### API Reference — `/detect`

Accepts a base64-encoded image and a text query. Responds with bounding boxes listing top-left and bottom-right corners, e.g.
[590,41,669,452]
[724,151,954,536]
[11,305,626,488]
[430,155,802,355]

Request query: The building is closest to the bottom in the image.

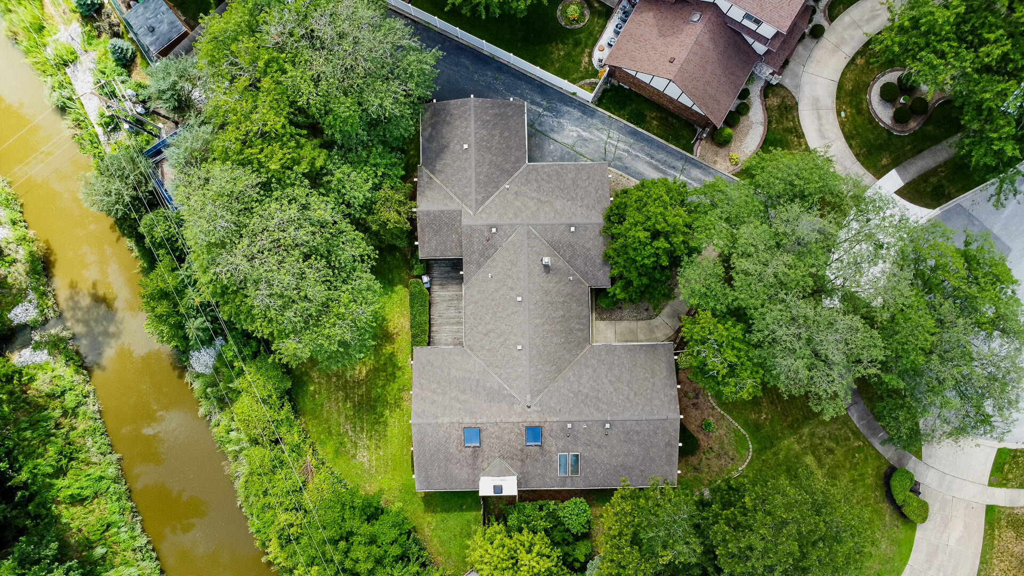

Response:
[408,94,688,497]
